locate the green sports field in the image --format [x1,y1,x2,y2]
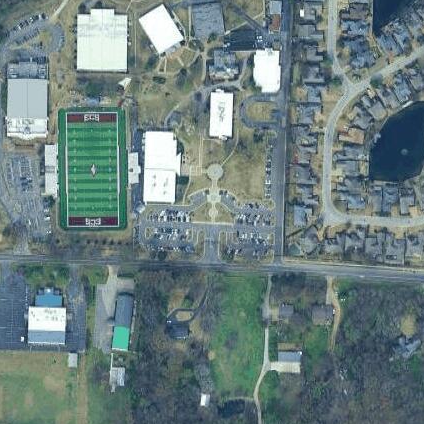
[59,107,126,231]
